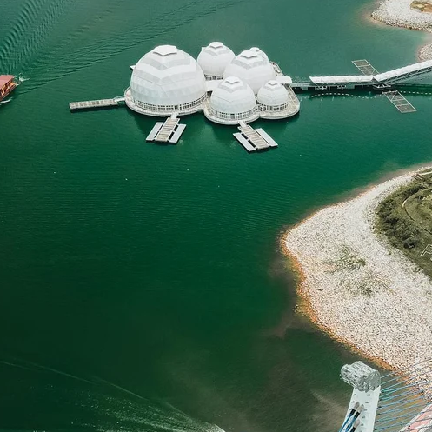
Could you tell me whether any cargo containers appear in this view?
No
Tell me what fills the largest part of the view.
water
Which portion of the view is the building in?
top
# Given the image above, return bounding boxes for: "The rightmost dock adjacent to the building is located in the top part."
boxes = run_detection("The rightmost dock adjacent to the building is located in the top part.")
[233,118,278,153]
